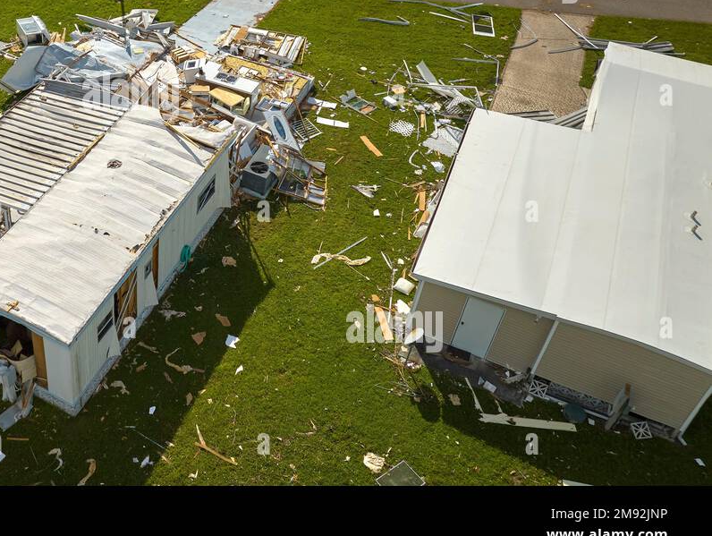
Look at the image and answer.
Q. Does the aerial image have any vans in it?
No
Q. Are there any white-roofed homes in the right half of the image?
Yes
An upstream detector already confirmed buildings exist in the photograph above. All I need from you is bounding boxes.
[403,47,712,464]
[0,69,235,414]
